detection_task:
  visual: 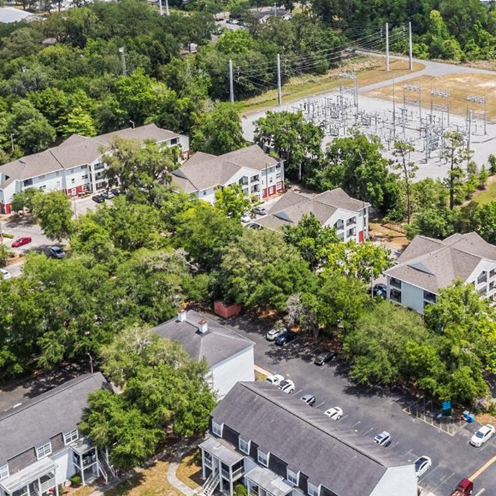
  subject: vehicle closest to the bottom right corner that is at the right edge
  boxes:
[444,469,477,496]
